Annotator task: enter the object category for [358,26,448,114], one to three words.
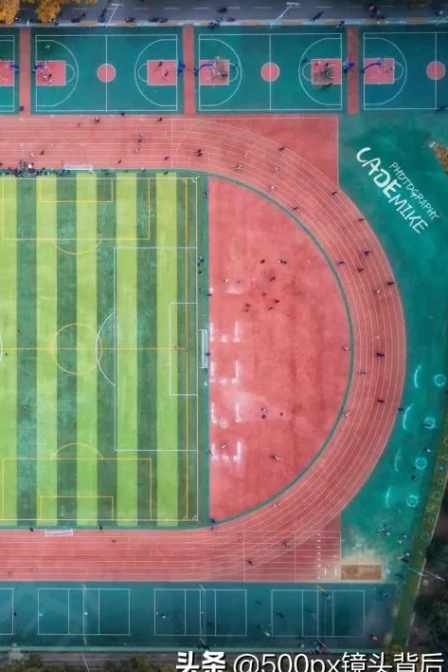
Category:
basketball court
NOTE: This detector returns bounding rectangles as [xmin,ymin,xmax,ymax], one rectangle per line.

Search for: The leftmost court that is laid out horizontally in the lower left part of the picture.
[38,589,129,634]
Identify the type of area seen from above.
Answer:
sports ground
